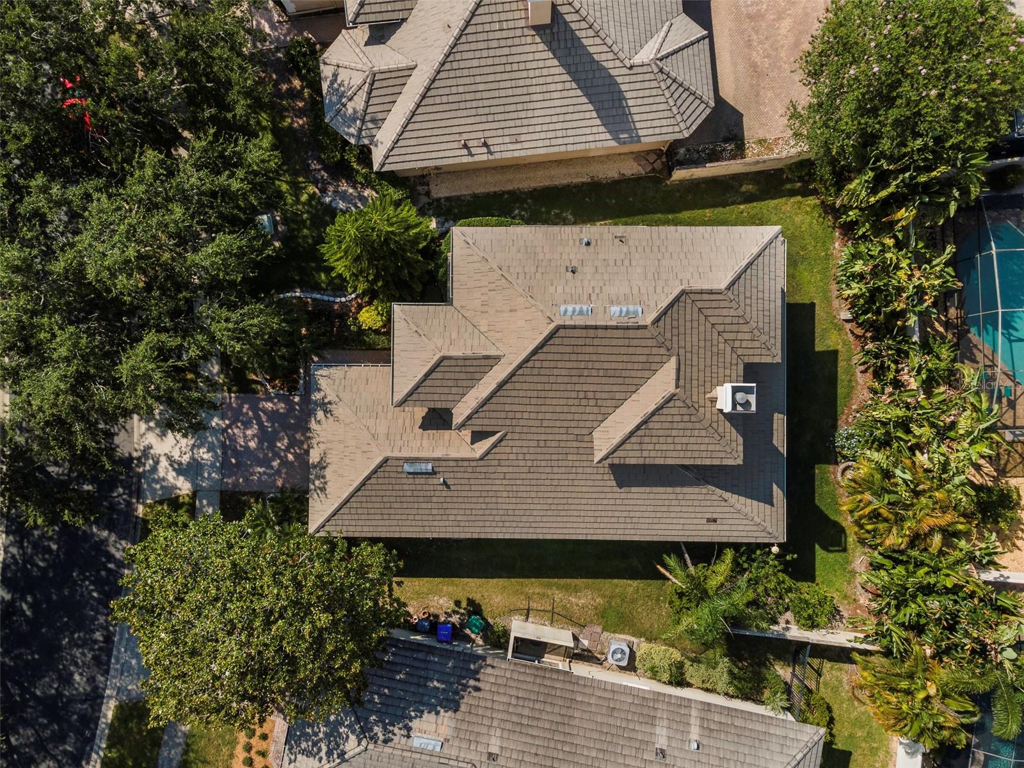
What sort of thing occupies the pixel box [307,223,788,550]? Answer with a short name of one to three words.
house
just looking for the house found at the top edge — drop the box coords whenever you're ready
[276,0,716,176]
